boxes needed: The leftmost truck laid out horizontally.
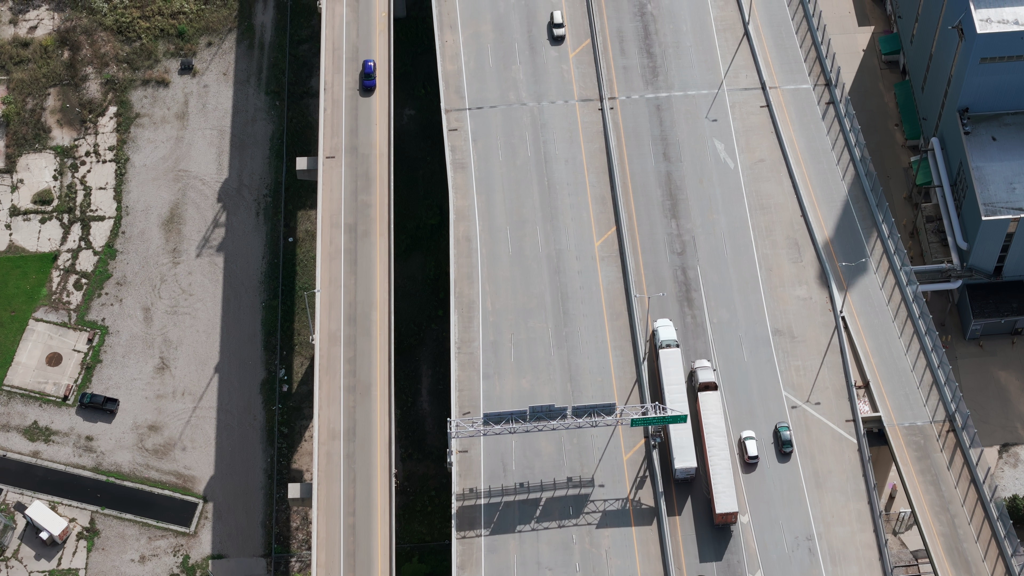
[77,389,123,412]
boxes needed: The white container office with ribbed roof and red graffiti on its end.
[24,500,72,544]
